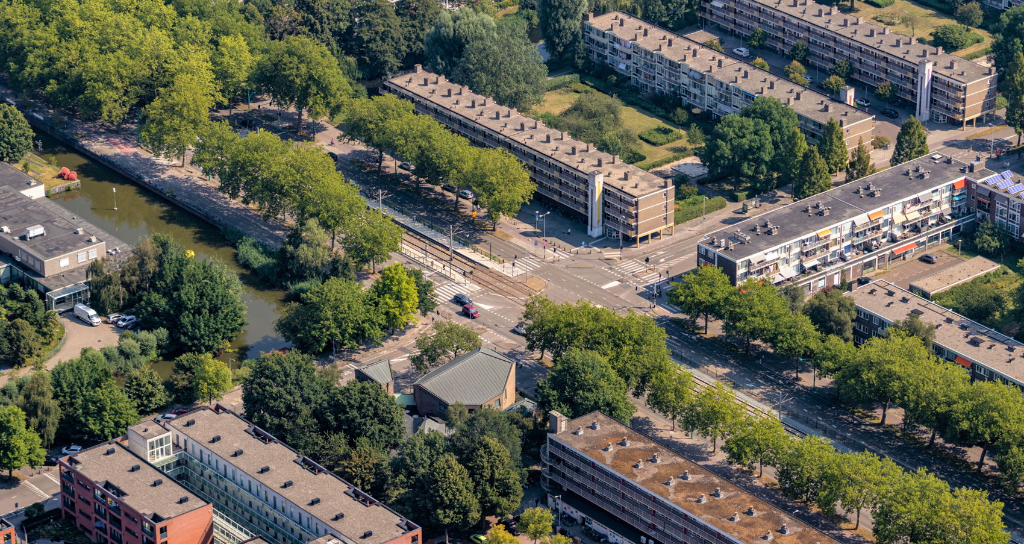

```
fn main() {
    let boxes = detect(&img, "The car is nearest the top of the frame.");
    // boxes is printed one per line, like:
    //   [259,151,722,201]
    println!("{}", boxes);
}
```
[732,46,748,58]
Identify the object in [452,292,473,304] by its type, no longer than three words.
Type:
vehicle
